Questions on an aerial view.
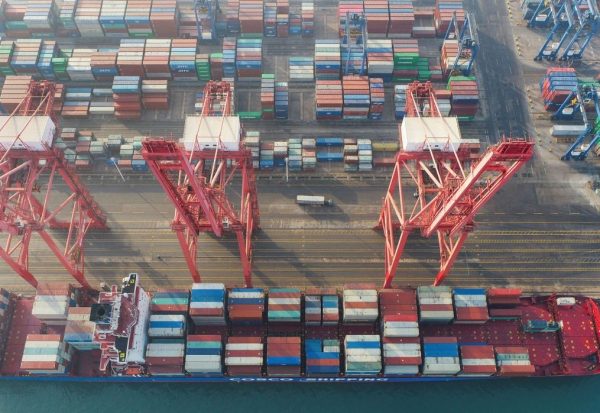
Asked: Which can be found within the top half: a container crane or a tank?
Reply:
container crane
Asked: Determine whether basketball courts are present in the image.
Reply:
No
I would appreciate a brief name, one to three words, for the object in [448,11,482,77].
container crane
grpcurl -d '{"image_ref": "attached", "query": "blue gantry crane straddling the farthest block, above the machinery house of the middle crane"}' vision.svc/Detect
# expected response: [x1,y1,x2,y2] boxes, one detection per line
[197,0,226,40]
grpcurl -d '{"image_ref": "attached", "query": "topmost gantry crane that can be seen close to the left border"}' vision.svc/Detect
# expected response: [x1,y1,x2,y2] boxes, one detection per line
[0,77,114,292]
